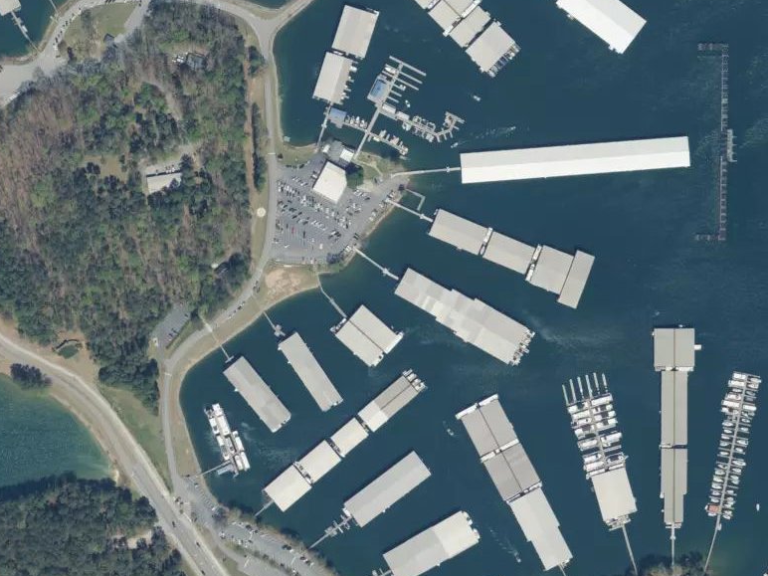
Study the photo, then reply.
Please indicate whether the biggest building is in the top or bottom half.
top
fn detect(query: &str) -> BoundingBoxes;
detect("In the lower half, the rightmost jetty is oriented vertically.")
[704,371,760,573]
